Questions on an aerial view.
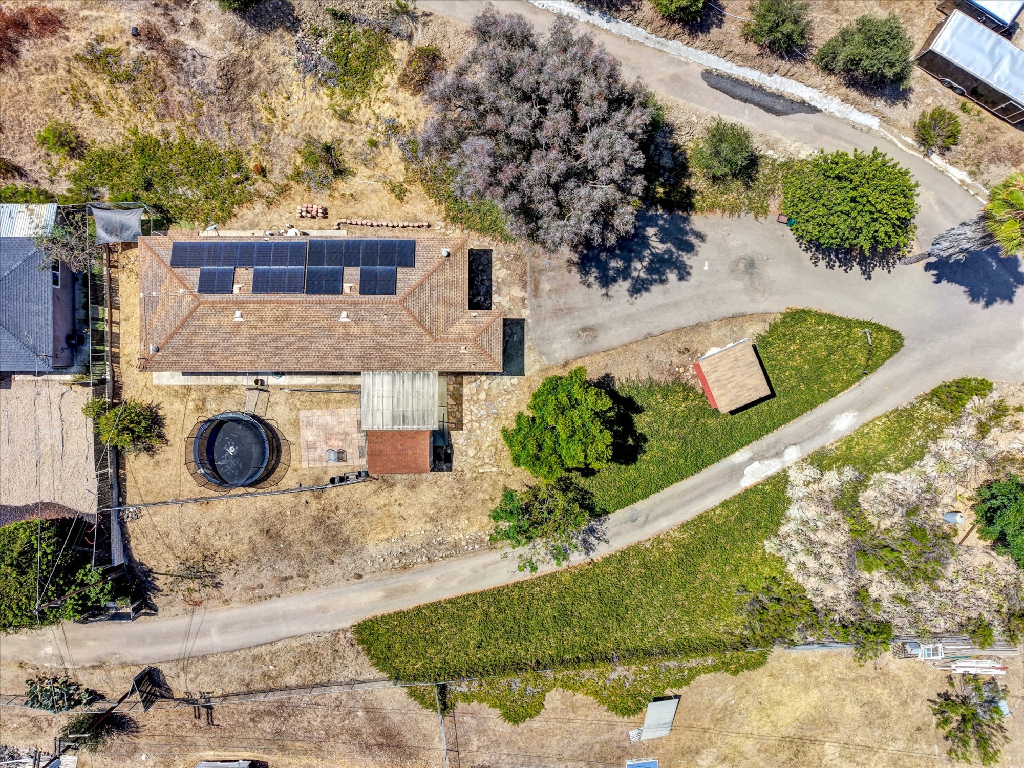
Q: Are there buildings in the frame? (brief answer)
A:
Yes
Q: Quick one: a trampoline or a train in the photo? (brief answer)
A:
trampoline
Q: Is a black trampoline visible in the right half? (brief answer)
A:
No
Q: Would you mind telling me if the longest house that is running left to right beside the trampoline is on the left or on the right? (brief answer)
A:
left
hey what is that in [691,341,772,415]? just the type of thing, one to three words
shed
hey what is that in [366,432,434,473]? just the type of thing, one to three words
shed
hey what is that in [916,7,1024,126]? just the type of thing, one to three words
trailer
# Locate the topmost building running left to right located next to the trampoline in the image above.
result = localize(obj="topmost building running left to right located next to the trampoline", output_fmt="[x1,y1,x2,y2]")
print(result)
[129,231,503,372]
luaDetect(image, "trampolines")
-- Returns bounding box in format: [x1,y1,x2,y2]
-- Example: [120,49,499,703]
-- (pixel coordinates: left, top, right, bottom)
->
[179,409,274,494]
